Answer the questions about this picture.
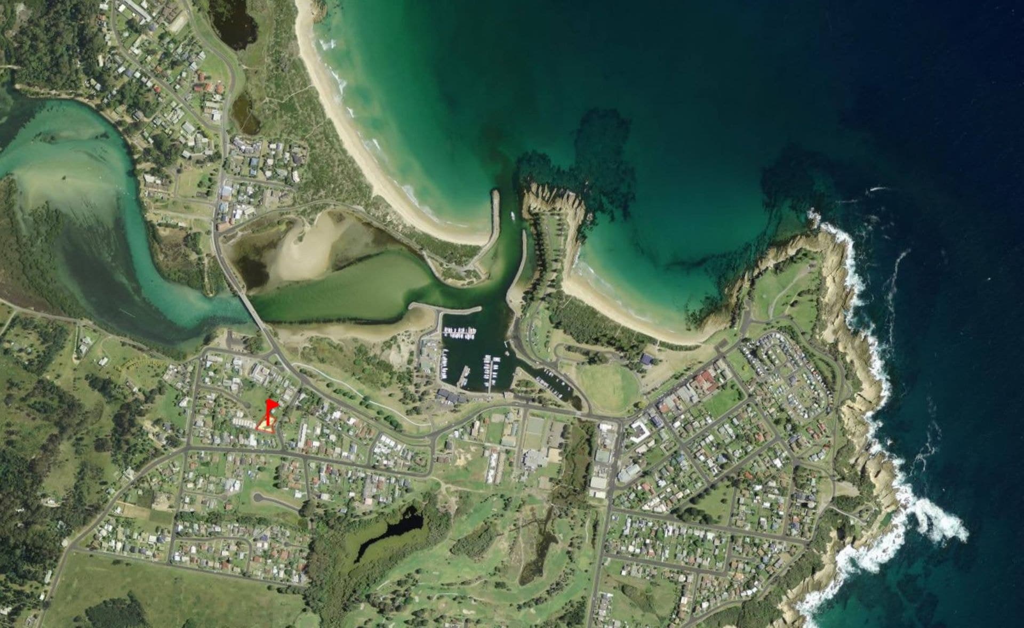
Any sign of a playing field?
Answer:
Yes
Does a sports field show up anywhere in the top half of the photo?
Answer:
No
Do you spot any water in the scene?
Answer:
Yes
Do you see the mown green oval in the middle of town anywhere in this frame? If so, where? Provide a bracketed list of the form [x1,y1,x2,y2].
[576,363,641,415]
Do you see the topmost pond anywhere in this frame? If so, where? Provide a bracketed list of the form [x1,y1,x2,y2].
[205,0,259,51]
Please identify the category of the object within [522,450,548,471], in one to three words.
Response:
building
